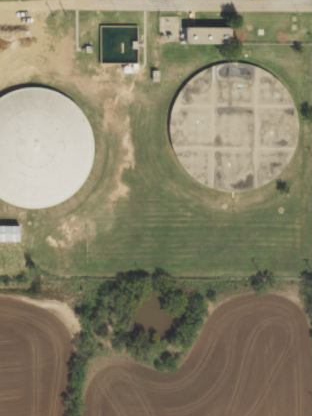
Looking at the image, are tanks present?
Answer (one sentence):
Yes, the image includes a tank.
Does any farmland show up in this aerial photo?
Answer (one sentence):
Yes, there is farmland in the image.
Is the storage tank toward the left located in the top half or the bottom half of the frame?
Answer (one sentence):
The top half of the photo is where the storage tank toward the left is.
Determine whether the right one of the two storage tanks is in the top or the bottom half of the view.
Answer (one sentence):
You can find the right one of the two storage tanks in the top half.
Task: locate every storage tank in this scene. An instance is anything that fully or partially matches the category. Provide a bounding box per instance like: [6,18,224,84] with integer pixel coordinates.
[0,86,96,205]
[170,62,300,196]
